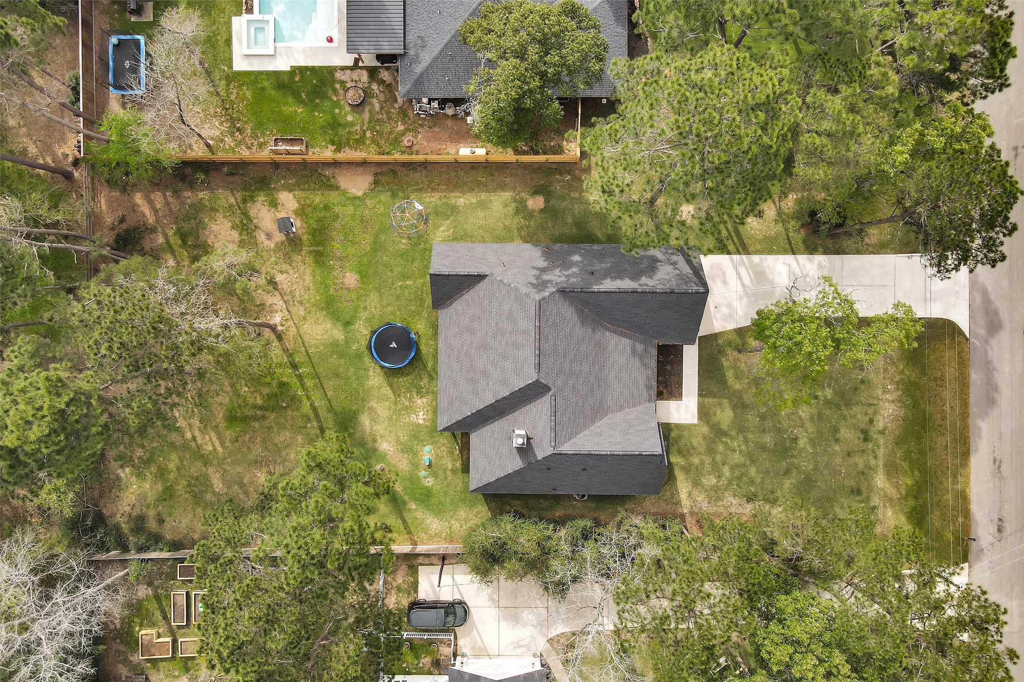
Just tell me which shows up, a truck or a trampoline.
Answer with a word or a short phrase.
trampoline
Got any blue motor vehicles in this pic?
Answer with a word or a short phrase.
No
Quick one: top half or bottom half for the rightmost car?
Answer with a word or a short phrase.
bottom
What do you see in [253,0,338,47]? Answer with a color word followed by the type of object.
white swimming pool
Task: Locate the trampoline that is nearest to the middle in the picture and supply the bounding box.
[365,321,422,370]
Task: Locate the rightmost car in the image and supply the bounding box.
[407,601,469,634]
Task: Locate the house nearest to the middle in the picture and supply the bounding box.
[430,243,710,495]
